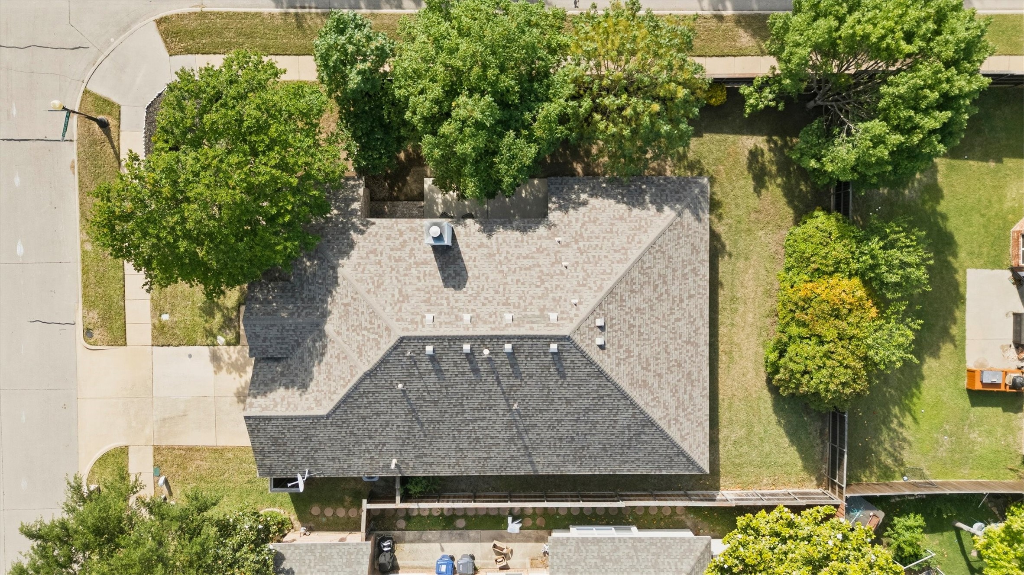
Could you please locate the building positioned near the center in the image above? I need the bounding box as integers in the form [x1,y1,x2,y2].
[241,176,709,476]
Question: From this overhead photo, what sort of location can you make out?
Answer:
residential area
